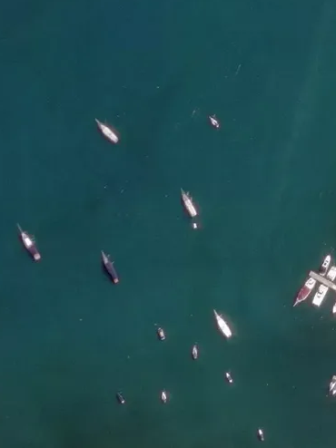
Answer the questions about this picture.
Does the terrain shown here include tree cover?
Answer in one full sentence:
No, there's no tree cover in this view.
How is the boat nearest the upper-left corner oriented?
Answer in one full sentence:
In this picture, the boat nearest the upper-left corner is oriented at an angle.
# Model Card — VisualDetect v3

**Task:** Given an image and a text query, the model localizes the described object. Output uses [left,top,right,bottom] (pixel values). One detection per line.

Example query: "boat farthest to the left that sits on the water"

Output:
[19,226,40,260]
